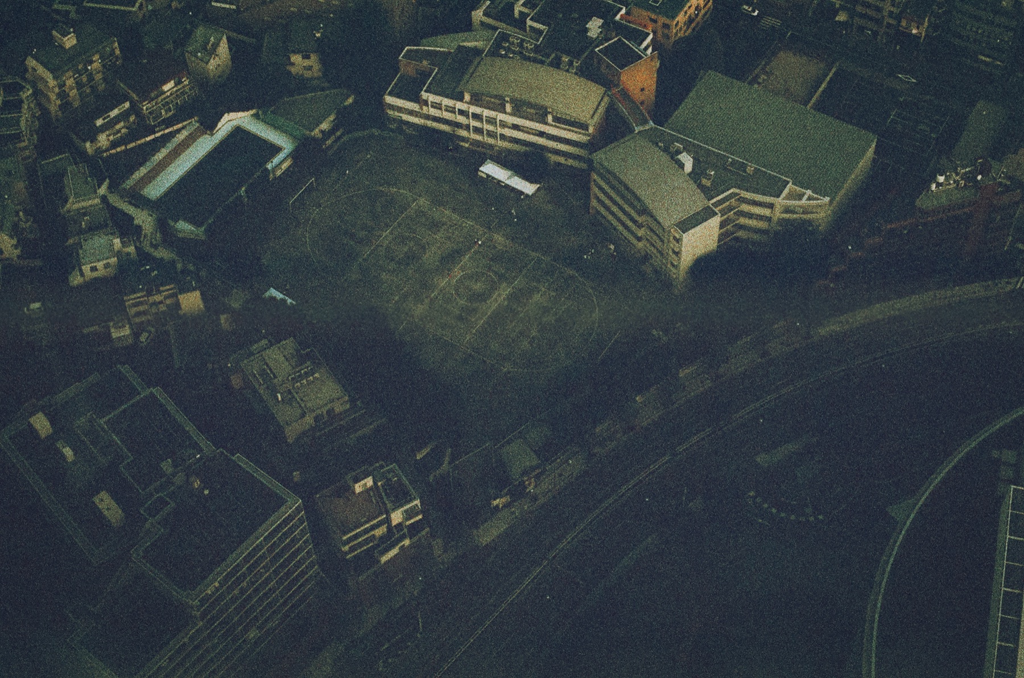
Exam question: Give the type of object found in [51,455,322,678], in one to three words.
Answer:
building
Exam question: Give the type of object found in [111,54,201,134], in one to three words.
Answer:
house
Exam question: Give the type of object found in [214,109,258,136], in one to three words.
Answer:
building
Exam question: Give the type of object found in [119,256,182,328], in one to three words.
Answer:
house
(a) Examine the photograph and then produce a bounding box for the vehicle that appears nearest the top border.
[740,4,760,17]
